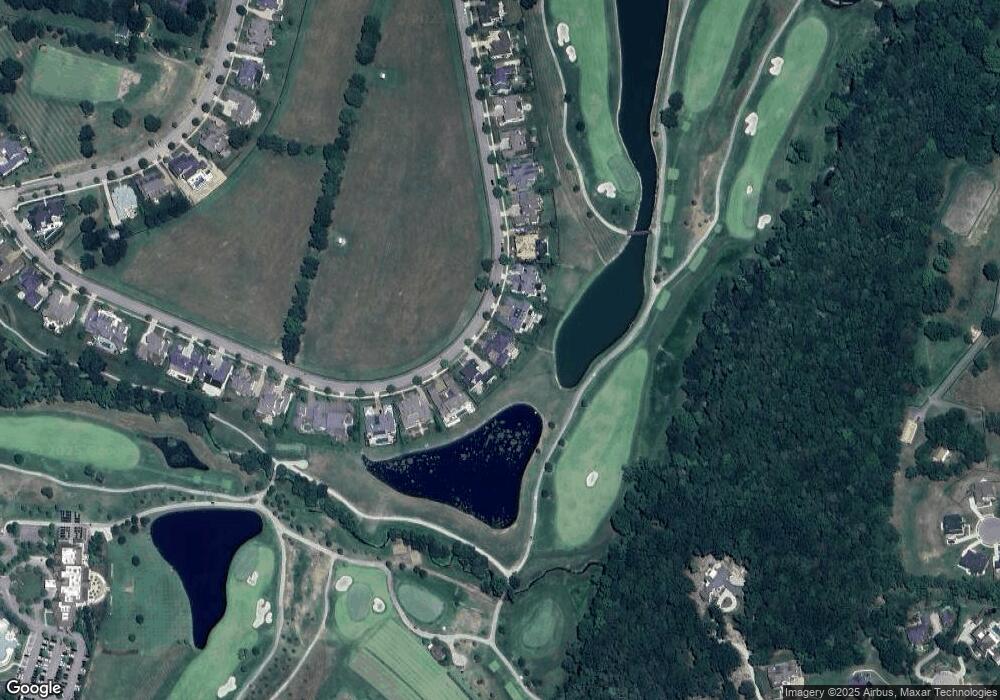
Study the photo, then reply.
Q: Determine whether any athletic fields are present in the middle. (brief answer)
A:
No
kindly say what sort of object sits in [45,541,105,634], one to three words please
building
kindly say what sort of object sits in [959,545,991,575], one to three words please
house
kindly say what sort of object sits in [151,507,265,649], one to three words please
pond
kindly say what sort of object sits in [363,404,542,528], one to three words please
pond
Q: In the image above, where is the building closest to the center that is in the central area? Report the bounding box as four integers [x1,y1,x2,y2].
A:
[479,330,517,369]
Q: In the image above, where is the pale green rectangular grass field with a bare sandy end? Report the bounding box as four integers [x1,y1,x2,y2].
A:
[32,46,142,103]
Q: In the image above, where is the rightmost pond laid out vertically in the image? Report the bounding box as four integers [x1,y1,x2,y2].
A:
[554,0,669,389]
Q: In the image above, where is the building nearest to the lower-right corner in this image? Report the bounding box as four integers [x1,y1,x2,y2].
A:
[967,620,1000,658]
